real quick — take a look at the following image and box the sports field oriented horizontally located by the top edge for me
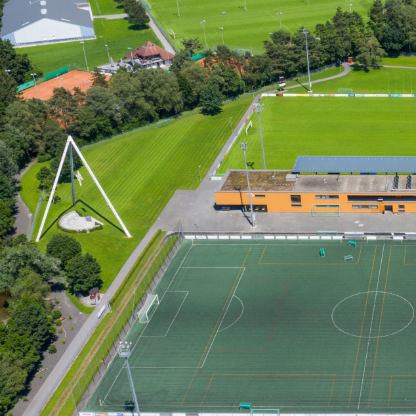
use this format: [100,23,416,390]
[141,0,416,55]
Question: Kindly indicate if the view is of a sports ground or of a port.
sports ground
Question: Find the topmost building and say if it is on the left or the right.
left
